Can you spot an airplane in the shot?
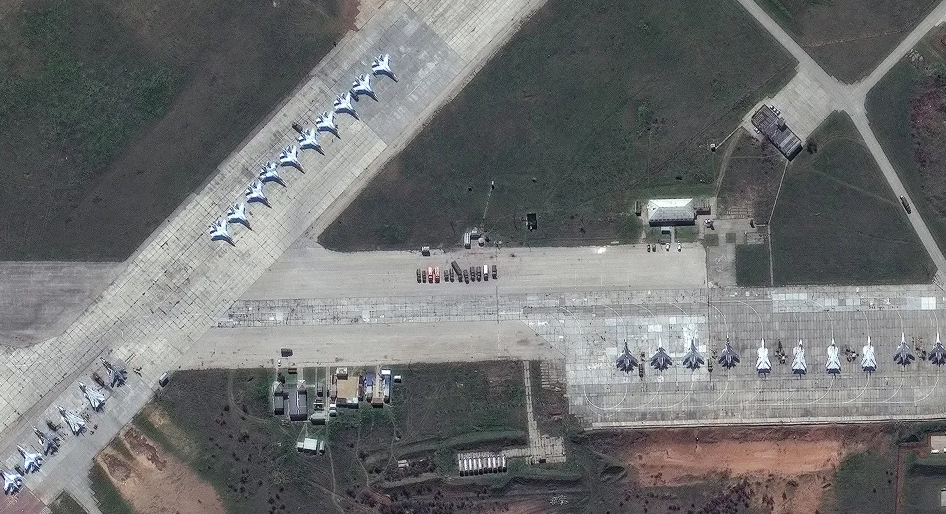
Yes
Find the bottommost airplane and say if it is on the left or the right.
left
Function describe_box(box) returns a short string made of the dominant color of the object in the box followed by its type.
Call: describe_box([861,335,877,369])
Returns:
white airplane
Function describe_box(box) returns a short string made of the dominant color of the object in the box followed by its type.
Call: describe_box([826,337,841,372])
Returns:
white airplane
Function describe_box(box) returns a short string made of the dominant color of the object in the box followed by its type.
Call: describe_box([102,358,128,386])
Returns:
gray airplane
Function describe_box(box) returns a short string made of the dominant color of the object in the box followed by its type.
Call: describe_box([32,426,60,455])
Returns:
gray airplane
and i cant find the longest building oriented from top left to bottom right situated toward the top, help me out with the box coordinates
[751,105,803,158]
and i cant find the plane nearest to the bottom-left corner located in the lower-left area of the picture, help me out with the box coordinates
[0,471,24,497]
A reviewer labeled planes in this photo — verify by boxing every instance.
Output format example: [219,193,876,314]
[718,335,740,365]
[0,471,24,497]
[206,215,234,242]
[682,338,705,369]
[58,407,86,434]
[18,445,43,473]
[32,426,60,455]
[102,358,128,386]
[348,70,376,97]
[861,335,877,369]
[928,333,946,364]
[615,339,637,370]
[649,337,672,367]
[892,335,915,364]
[331,92,358,117]
[276,144,303,170]
[257,157,285,184]
[756,339,770,372]
[793,338,808,372]
[79,382,106,410]
[826,337,841,372]
[370,53,397,80]
[311,109,340,135]
[297,126,323,152]
[224,201,251,227]
[243,178,271,204]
